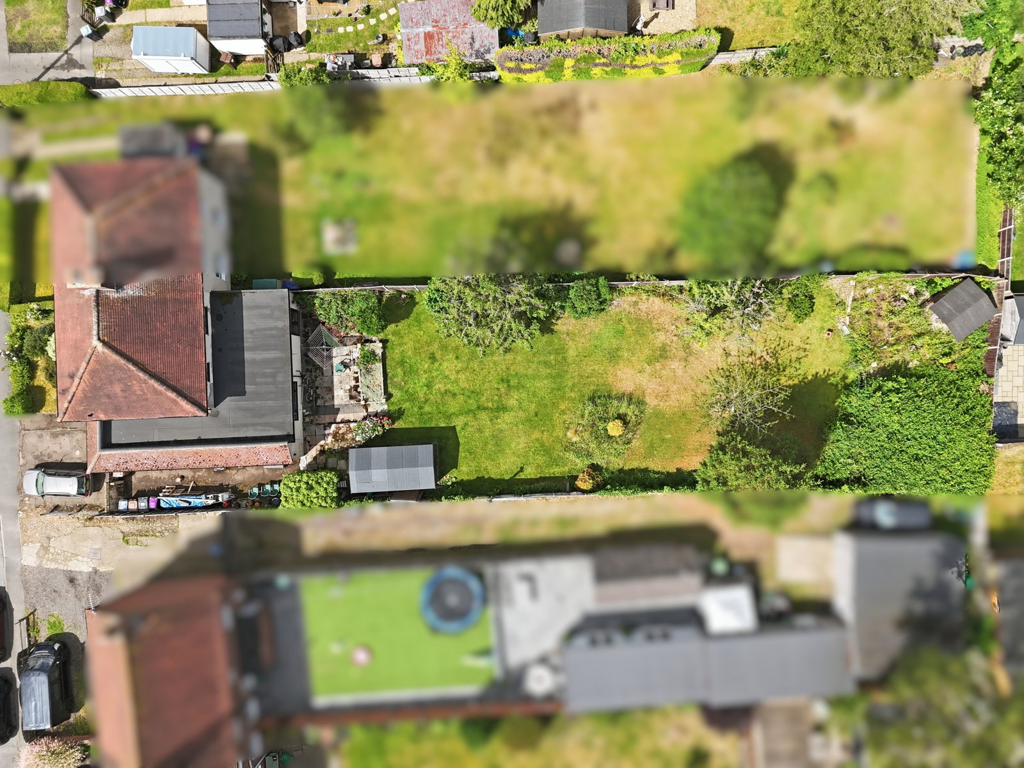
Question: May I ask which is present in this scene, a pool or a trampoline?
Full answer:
This aerial view contains a trampoline.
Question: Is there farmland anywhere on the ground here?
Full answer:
No, farmland can't be seen anywhere here.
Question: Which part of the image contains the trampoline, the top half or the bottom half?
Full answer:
The trampoline is in the bottom half of the image.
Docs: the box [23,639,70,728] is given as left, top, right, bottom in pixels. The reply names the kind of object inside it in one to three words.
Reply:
car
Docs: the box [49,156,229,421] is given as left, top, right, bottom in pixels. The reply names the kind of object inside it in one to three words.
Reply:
house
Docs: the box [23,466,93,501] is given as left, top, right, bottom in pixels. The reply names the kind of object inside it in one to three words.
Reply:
car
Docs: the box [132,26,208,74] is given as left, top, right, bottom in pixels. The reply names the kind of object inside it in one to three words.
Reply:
shed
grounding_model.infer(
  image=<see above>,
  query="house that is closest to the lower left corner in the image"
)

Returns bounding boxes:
[84,558,261,768]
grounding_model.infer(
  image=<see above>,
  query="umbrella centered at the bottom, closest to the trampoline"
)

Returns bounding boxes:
[524,659,553,692]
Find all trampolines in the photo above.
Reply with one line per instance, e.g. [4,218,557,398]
[423,569,485,630]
